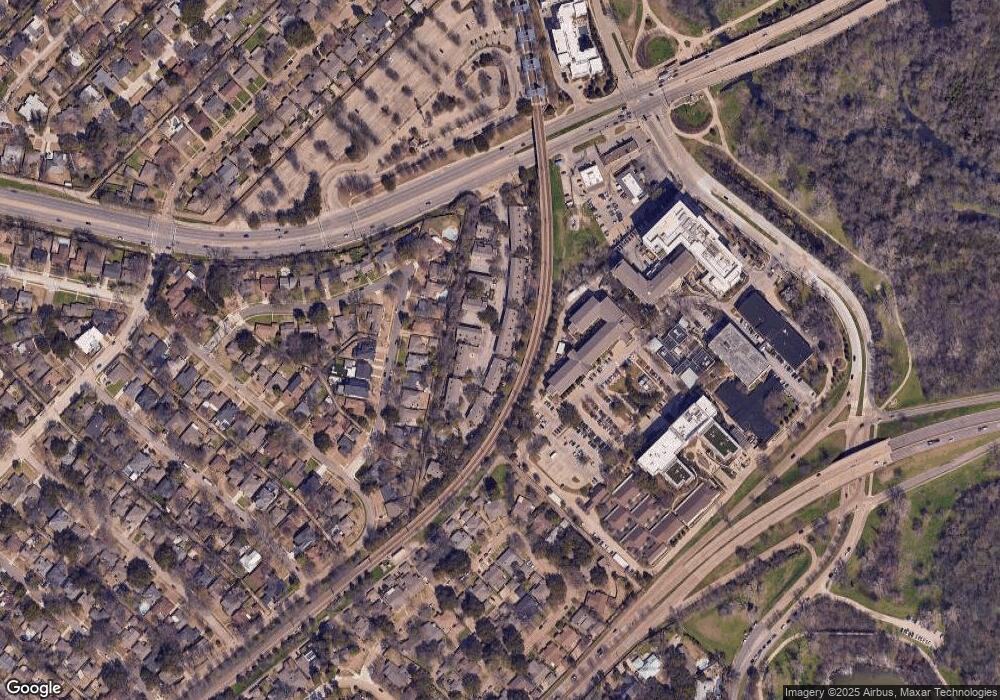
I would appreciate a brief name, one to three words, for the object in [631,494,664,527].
building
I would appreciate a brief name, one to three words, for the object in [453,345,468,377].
building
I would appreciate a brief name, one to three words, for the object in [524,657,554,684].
house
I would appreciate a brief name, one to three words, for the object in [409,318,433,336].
house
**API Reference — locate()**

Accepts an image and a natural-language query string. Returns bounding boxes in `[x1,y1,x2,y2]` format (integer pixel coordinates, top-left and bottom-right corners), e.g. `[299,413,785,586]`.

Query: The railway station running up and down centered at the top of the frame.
[495,0,550,104]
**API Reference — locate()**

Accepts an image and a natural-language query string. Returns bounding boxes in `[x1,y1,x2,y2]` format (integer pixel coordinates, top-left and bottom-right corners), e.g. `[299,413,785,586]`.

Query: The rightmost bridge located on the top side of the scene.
[653,0,907,110]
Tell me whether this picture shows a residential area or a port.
residential area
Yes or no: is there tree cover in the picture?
Yes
